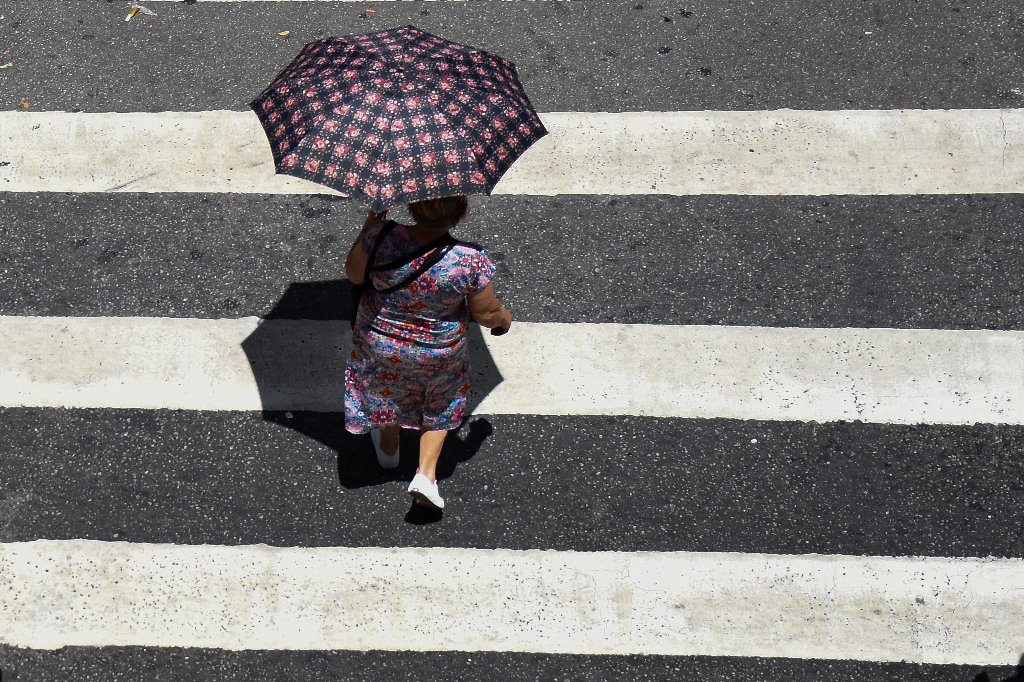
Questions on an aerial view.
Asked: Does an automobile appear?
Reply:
No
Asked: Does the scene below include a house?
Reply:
No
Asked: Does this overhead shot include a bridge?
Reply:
No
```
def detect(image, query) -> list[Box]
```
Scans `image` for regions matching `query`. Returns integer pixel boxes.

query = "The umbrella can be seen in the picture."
[243,25,551,217]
